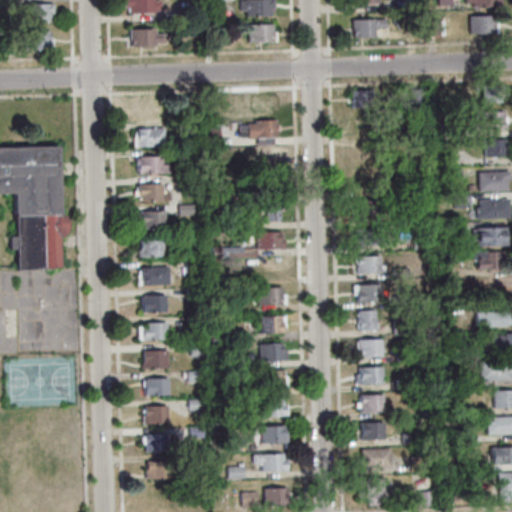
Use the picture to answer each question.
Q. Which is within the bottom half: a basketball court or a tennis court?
basketball court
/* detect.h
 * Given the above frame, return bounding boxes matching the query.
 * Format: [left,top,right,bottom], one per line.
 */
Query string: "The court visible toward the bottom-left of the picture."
[4,357,74,405]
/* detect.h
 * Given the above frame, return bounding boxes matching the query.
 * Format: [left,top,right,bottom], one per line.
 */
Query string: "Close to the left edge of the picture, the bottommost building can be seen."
[0,146,72,268]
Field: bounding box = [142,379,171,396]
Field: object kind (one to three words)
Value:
house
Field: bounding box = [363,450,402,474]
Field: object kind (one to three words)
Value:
house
